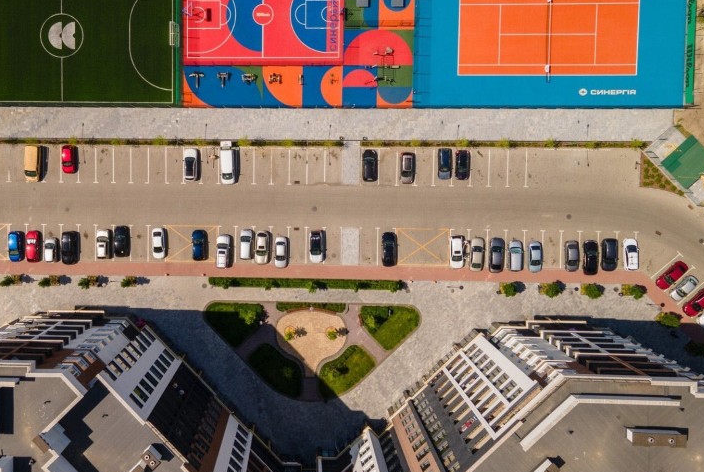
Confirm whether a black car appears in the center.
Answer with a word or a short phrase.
Yes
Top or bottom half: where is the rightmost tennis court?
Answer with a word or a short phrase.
top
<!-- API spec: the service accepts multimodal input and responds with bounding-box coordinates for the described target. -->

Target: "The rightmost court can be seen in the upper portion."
[415,0,687,107]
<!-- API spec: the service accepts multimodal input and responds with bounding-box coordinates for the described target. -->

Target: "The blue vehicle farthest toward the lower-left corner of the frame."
[7,232,24,261]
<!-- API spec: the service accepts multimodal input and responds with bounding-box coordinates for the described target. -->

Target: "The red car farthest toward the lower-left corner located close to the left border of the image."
[24,231,42,261]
